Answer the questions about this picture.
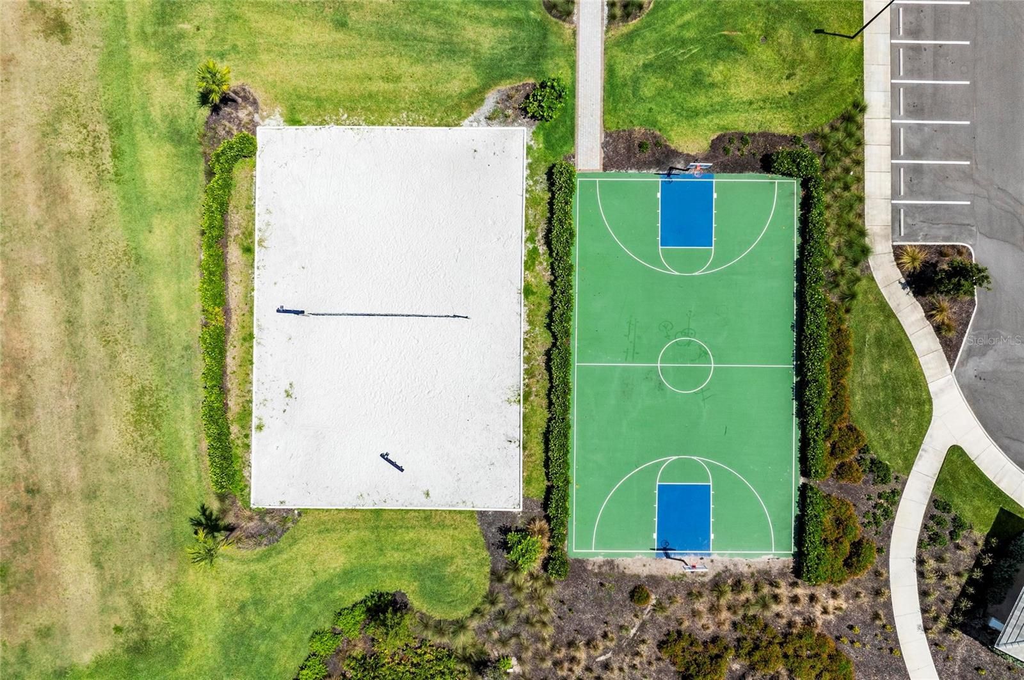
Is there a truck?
No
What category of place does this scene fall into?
sports ground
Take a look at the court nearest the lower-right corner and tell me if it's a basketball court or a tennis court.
basketball court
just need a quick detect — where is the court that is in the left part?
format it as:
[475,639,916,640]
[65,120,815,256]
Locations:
[250,126,526,511]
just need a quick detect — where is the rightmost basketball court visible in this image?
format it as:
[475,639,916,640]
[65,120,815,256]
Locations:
[568,173,800,558]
